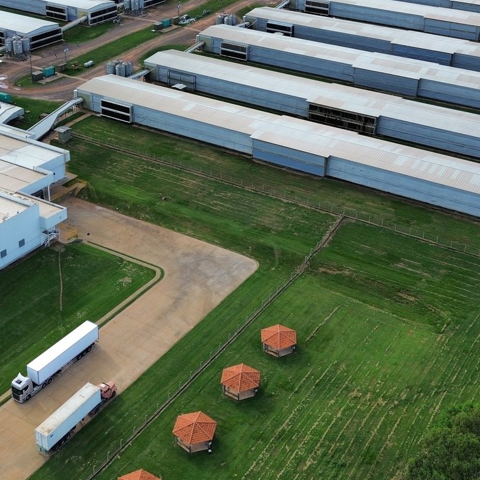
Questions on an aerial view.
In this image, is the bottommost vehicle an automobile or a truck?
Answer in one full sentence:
Specifically, the bottommost vehicle is a truck.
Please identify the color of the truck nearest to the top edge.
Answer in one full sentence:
The truck nearest to the top edge is white.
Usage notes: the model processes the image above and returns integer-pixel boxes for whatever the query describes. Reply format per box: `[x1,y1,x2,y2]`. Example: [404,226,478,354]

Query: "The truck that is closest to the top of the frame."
[9,319,98,403]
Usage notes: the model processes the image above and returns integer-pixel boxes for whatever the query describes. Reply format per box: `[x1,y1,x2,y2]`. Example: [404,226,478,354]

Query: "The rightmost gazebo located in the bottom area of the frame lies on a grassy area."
[262,324,296,358]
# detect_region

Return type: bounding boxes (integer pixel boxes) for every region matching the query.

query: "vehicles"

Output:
[34,374,120,451]
[9,319,98,403]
